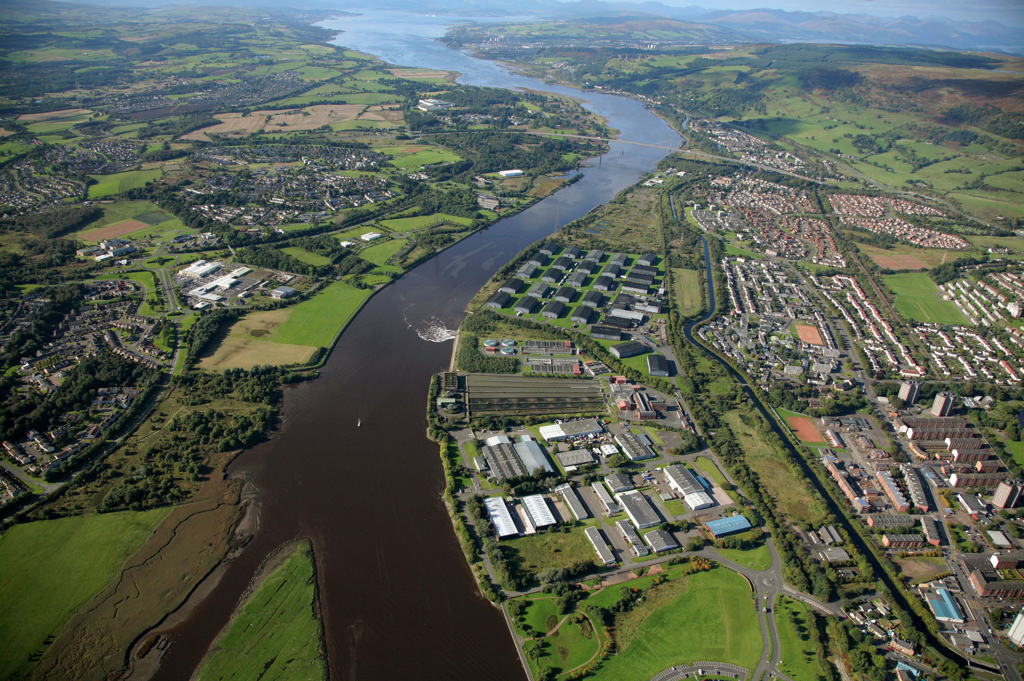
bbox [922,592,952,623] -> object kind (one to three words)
shed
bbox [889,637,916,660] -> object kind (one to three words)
house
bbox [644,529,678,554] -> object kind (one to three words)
building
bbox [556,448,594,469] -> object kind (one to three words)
building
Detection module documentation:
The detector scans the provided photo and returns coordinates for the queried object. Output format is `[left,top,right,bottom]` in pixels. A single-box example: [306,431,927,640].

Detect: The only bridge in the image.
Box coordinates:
[521,130,812,179]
